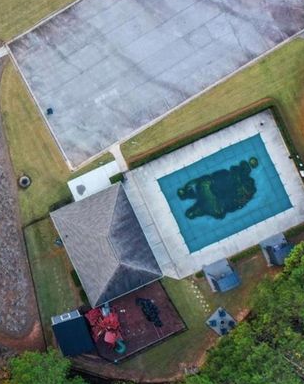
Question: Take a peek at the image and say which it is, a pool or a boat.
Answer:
pool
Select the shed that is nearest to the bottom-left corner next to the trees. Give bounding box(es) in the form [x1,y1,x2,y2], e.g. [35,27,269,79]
[51,310,94,359]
